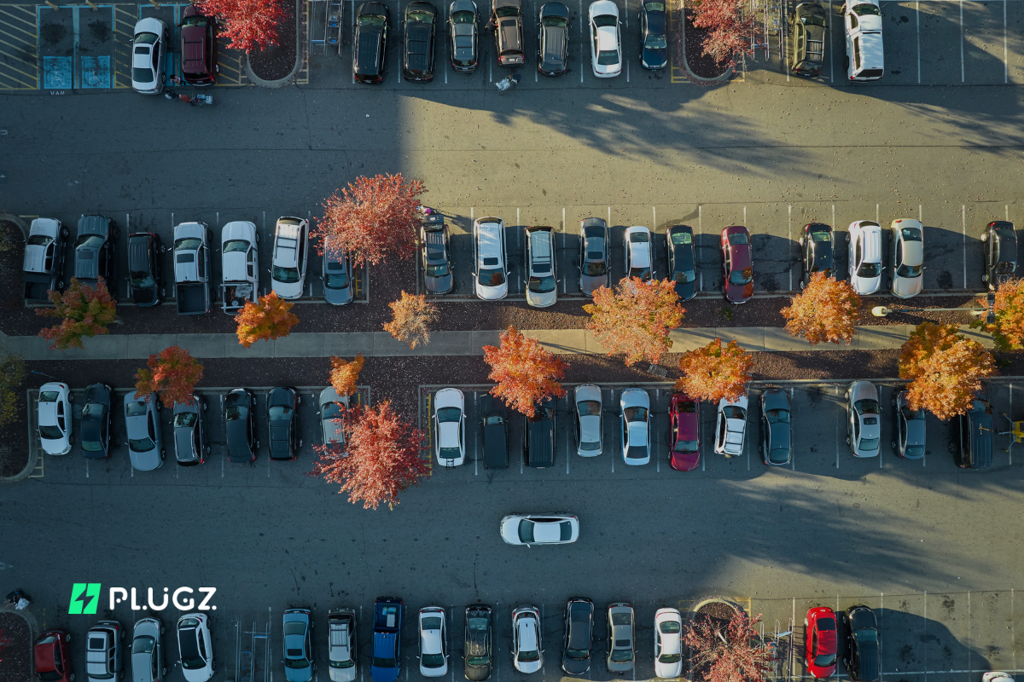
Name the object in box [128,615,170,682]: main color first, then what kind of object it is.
blue car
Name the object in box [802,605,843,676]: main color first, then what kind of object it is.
red car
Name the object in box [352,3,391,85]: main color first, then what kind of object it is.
black car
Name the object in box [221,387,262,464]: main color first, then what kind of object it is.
black car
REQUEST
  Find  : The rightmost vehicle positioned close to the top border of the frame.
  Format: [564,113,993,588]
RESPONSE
[843,0,891,85]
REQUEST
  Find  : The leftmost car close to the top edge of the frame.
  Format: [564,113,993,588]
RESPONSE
[127,19,169,95]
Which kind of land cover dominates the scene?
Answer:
paved ground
